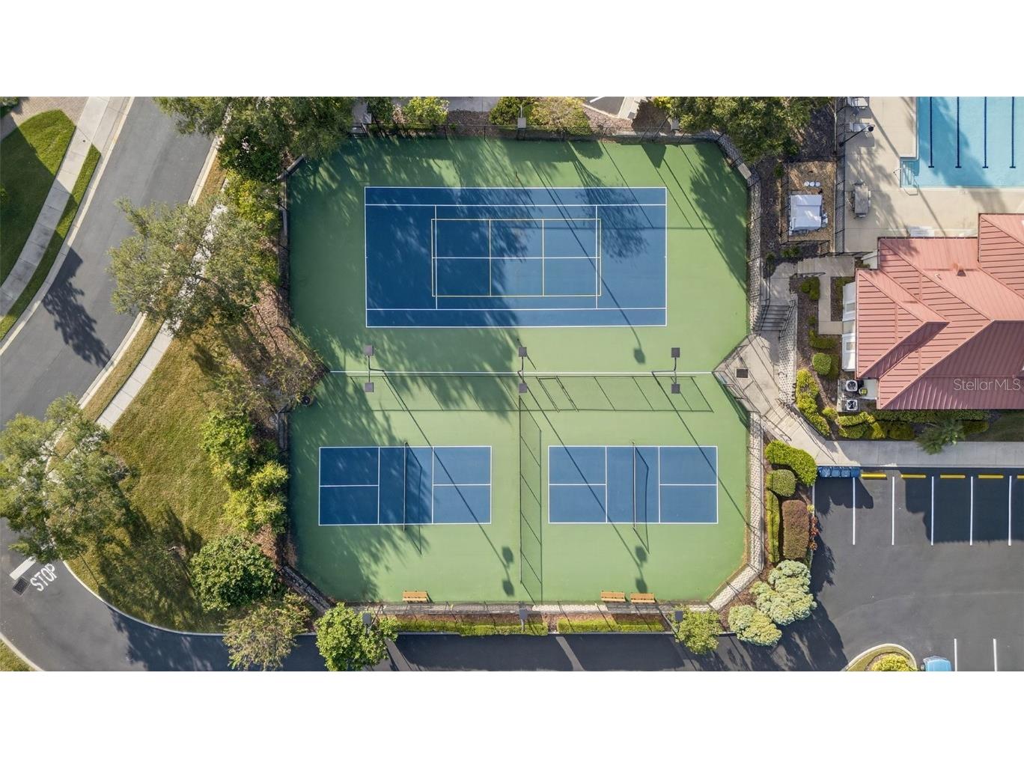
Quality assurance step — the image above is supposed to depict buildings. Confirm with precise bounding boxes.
[834,213,1024,416]
[787,193,823,236]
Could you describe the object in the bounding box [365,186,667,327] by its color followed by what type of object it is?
blue tennis court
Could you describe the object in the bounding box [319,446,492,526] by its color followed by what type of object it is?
blue sports court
